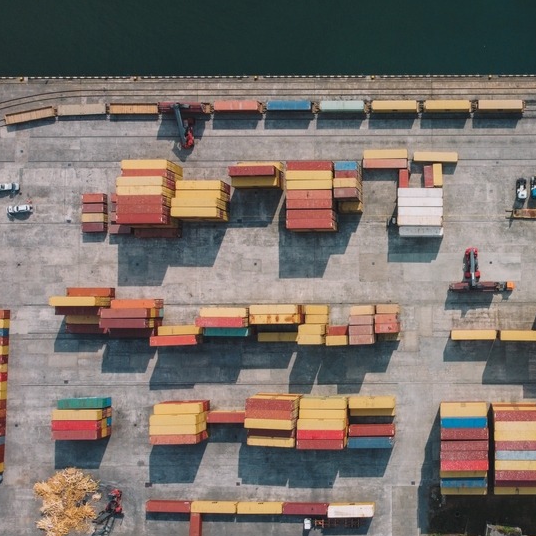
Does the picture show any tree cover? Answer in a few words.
No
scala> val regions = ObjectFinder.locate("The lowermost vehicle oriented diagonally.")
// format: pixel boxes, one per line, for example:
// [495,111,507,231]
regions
[89,488,128,531]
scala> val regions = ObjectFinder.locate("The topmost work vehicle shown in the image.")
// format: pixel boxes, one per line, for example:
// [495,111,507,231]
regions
[161,101,196,148]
